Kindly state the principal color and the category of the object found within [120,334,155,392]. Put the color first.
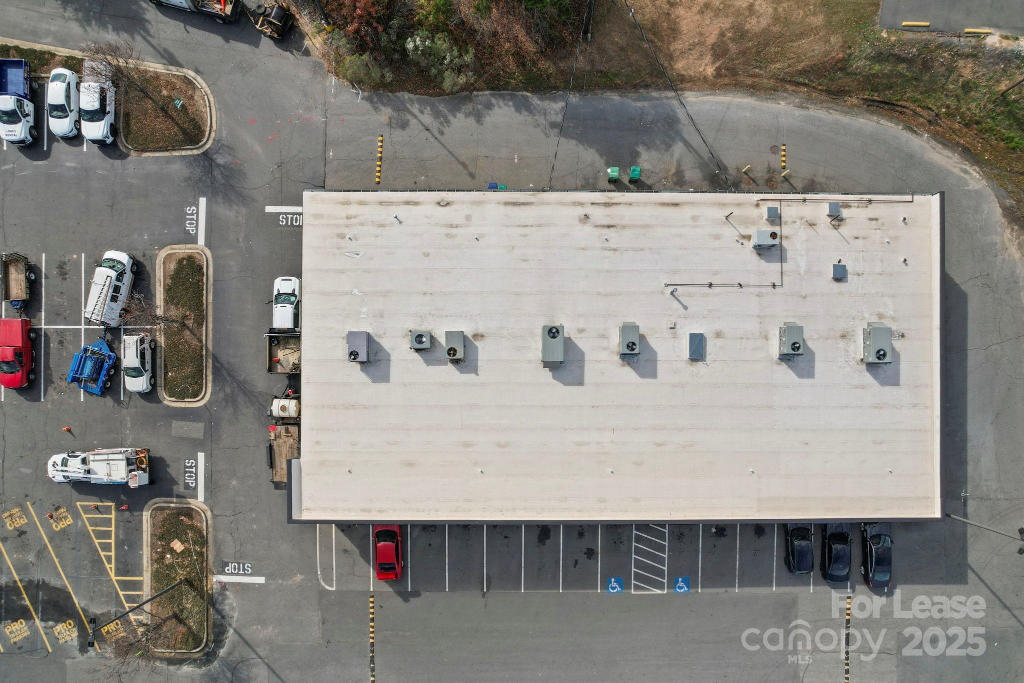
white car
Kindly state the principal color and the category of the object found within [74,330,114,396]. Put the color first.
blue trailer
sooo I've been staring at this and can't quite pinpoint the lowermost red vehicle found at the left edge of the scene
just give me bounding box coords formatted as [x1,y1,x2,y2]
[0,316,36,392]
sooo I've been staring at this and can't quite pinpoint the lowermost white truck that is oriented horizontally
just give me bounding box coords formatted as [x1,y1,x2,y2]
[42,450,152,494]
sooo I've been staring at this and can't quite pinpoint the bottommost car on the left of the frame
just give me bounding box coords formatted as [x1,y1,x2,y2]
[371,524,403,580]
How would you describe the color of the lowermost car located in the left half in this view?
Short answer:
red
